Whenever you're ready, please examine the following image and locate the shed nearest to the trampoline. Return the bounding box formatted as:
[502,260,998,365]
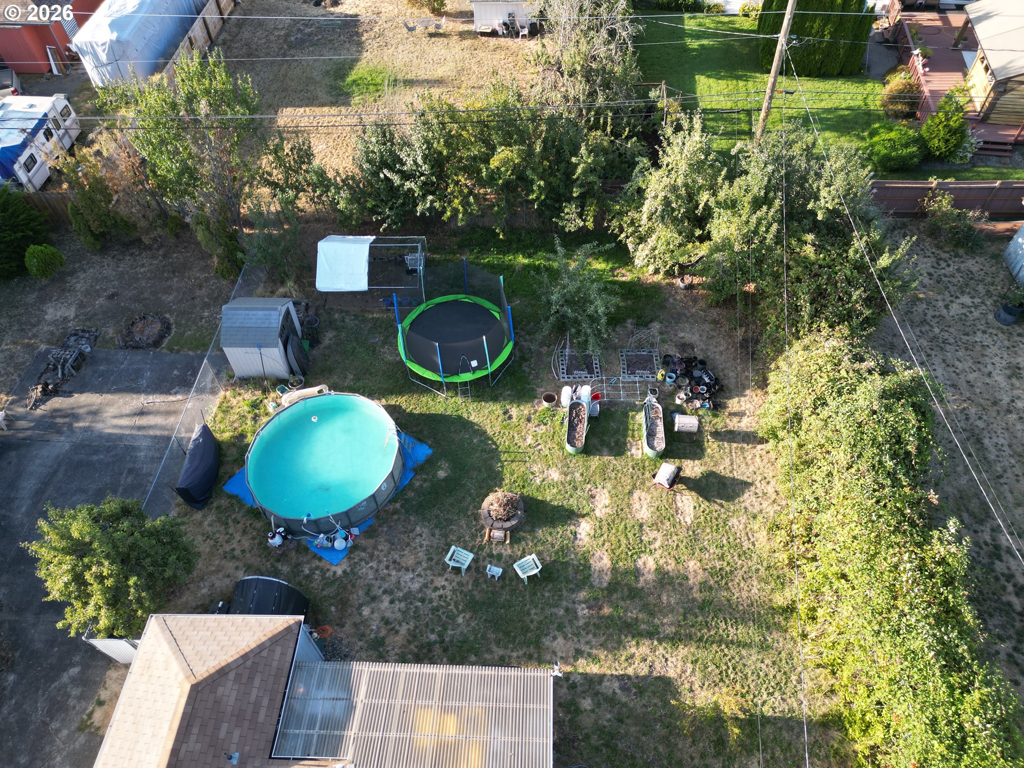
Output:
[220,296,300,377]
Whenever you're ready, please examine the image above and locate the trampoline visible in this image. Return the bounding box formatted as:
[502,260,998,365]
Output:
[392,257,516,395]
